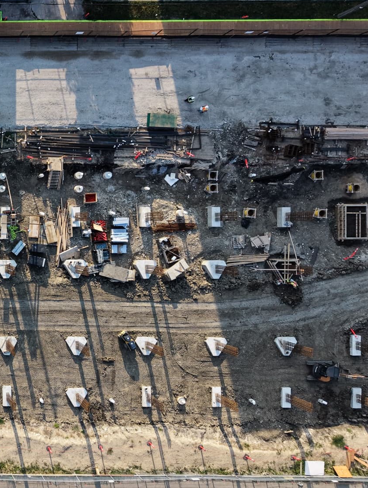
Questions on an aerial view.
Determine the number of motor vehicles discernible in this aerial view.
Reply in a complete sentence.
Altogether the scene contains 2 motor vehicles.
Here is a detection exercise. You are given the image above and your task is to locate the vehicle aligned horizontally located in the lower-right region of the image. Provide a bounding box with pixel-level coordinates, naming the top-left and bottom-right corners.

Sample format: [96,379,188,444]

[305,359,358,381]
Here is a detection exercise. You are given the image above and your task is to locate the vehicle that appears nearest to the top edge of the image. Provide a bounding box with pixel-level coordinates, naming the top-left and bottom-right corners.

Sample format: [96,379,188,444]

[114,326,138,353]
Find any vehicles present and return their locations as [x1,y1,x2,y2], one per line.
[114,326,138,353]
[305,359,358,381]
